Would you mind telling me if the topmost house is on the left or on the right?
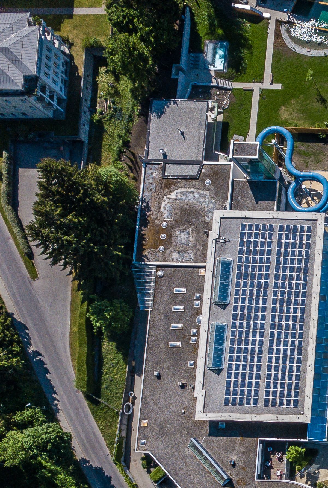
left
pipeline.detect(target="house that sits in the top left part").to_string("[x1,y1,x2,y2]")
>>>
[0,13,65,110]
